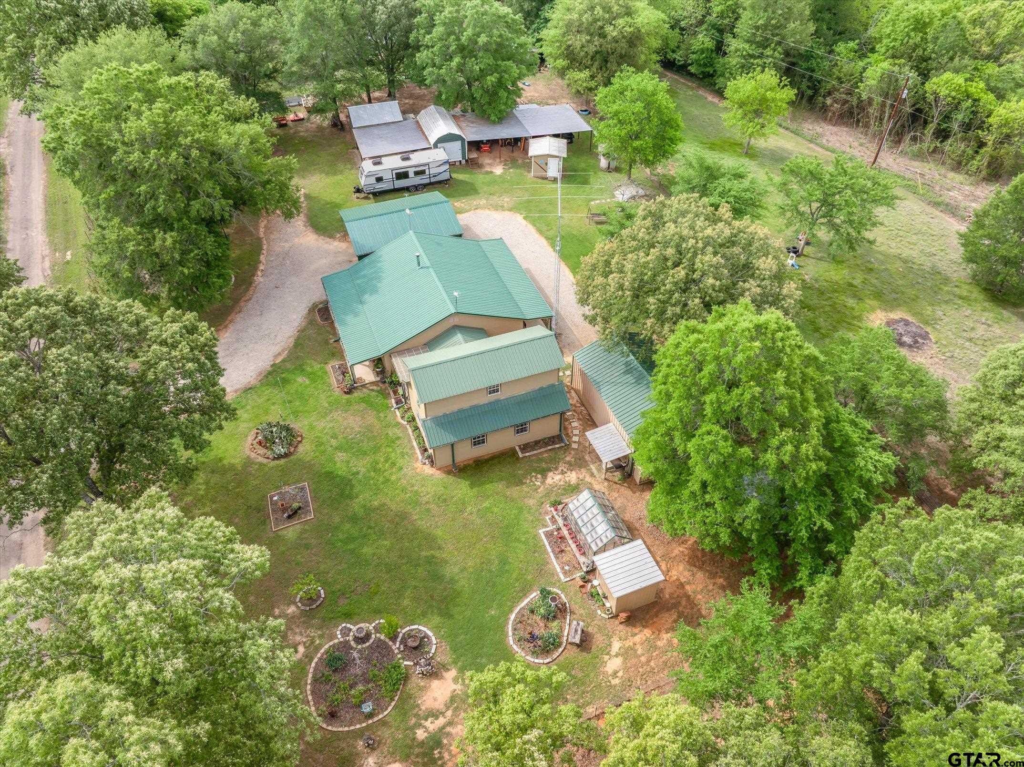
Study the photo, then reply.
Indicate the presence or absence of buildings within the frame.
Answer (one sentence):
Yes, there's a building down there.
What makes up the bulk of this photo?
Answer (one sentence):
For the most part, this view shows trees.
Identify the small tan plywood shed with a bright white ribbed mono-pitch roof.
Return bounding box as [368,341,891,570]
[593,537,666,614]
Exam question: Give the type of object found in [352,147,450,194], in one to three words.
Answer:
trailer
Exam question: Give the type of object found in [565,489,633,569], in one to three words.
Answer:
greenhouse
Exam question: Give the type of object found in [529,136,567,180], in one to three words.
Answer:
shed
